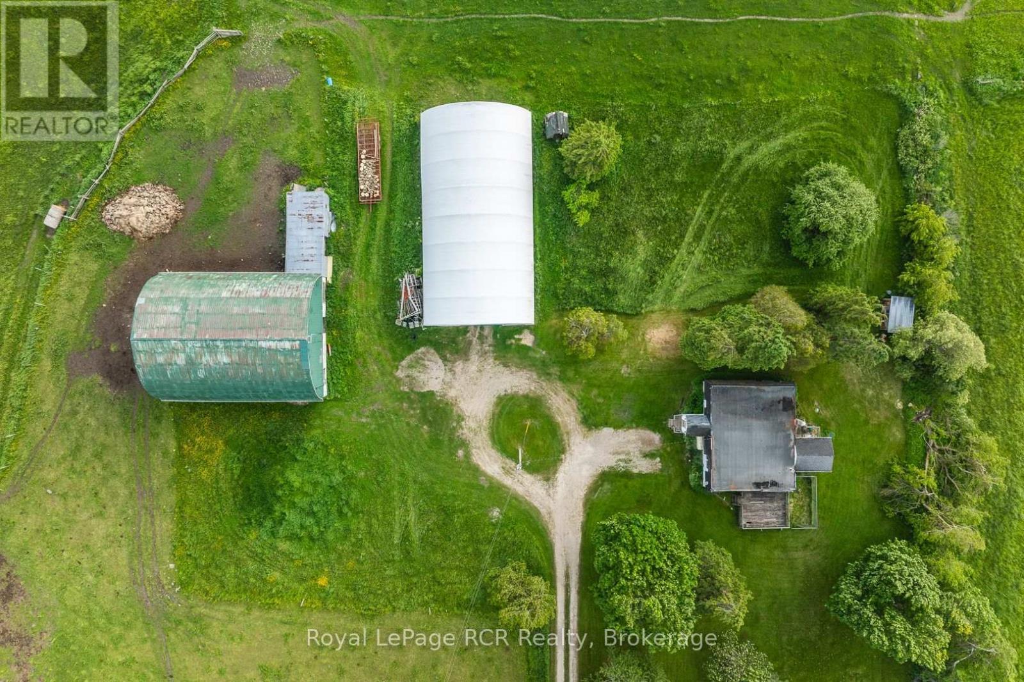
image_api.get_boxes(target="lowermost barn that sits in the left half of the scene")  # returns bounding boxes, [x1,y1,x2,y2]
[130,272,328,403]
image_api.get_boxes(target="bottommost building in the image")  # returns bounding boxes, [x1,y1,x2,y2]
[667,381,835,531]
